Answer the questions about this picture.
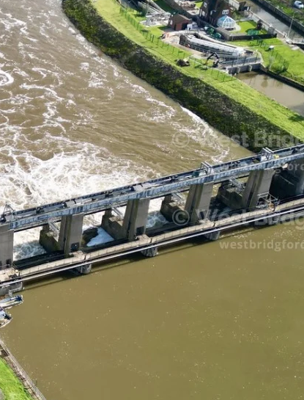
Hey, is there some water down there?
Yes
